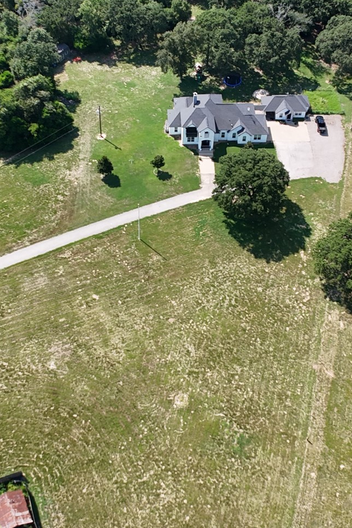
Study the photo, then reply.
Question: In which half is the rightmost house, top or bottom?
top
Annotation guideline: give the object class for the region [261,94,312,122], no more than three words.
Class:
house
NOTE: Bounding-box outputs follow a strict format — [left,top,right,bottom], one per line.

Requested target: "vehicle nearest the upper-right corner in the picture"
[316,118,328,134]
